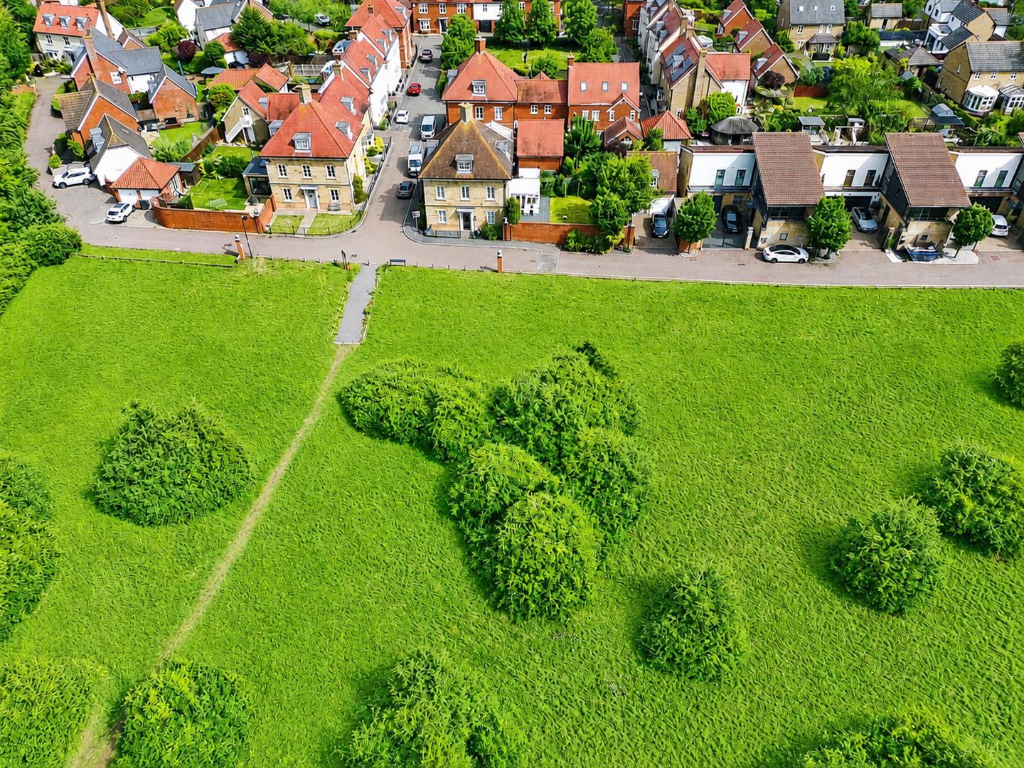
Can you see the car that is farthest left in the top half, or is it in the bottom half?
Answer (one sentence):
It is in the top half that the car that is farthest left appears.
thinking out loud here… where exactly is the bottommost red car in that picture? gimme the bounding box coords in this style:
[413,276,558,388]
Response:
[405,84,421,98]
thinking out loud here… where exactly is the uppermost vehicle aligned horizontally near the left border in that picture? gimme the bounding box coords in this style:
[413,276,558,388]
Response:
[50,165,94,187]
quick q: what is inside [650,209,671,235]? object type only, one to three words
car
